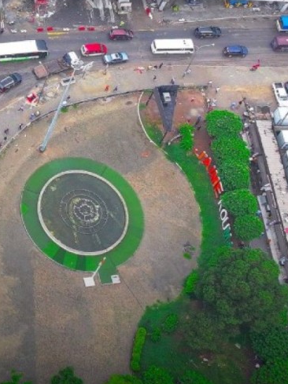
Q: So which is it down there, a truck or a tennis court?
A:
truck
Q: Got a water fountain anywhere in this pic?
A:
Yes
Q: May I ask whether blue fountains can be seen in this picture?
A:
No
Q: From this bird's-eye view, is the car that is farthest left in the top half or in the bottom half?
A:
top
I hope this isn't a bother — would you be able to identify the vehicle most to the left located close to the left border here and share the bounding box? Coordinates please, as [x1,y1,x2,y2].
[0,74,23,93]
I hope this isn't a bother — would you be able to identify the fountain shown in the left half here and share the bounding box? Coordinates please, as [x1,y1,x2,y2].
[21,159,146,274]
